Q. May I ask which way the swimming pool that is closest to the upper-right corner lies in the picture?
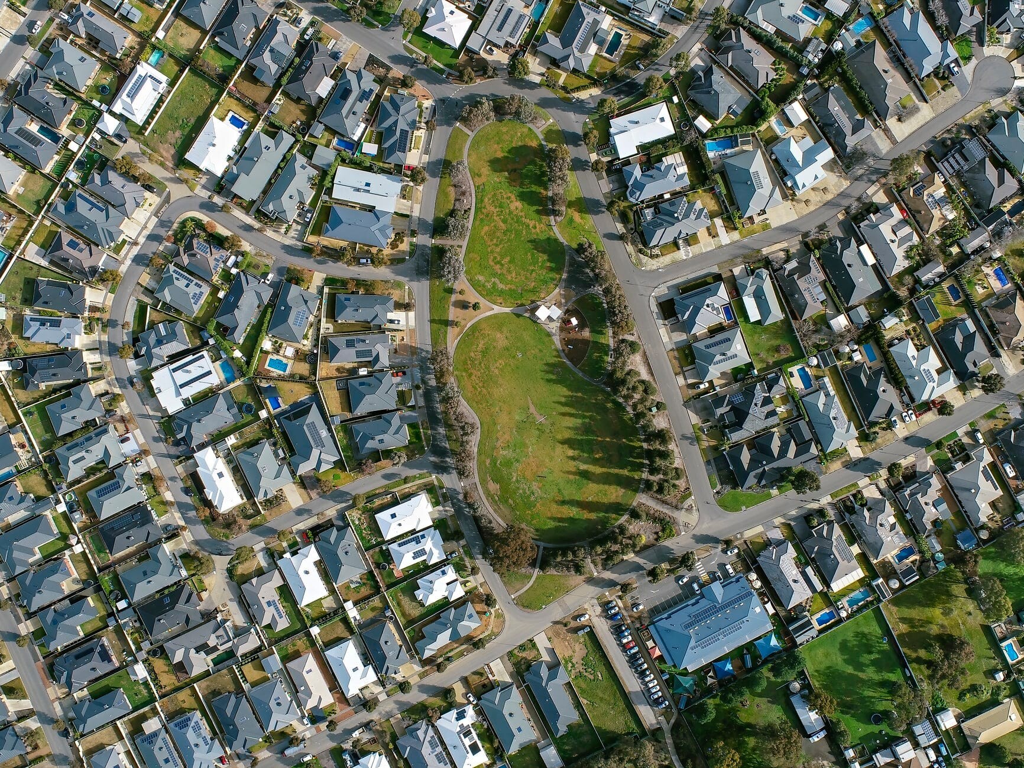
diagonally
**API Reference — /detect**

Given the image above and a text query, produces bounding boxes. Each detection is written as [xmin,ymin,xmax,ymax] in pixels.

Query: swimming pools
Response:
[529,0,548,23]
[0,248,9,265]
[266,356,290,375]
[845,587,872,610]
[772,117,787,135]
[603,30,626,59]
[333,137,356,153]
[814,609,838,629]
[267,396,280,411]
[218,359,239,386]
[226,116,246,131]
[796,366,814,391]
[947,283,963,302]
[35,123,63,145]
[992,265,1010,288]
[1003,641,1017,657]
[850,14,875,36]
[893,544,918,565]
[210,650,235,669]
[0,469,15,483]
[722,305,735,323]
[148,48,164,68]
[861,342,874,359]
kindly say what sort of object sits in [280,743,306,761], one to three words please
vehicle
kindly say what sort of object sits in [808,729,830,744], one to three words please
camper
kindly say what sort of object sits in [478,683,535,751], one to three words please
house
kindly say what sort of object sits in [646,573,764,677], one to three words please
building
